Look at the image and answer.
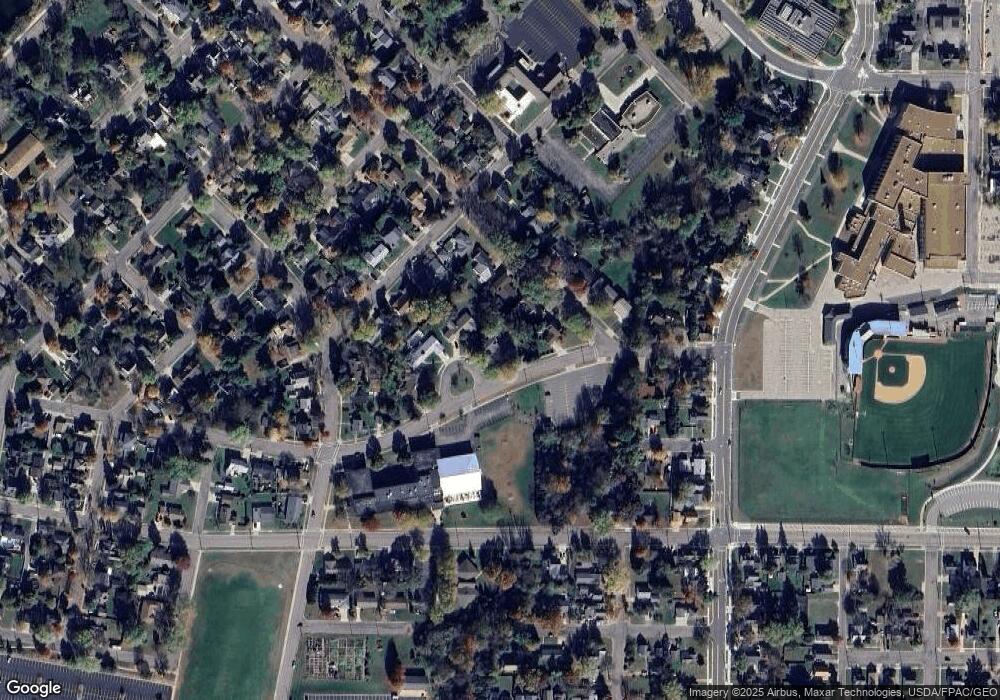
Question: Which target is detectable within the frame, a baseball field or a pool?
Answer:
baseball field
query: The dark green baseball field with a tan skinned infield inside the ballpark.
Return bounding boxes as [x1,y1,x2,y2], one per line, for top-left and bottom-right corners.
[854,334,992,470]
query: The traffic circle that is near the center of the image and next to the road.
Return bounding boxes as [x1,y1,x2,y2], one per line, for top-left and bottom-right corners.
[440,356,482,405]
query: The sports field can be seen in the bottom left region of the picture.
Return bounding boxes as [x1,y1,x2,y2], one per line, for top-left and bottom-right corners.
[175,551,302,700]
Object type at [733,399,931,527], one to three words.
sports field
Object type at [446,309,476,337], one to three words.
house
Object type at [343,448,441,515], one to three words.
building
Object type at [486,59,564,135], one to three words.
building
